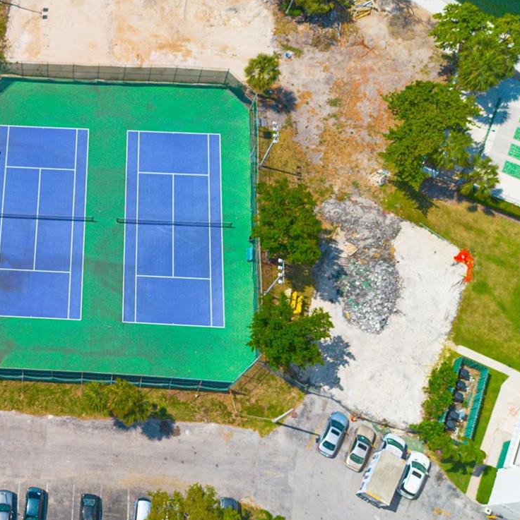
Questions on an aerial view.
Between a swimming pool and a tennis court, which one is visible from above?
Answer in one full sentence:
The image shows a tennis court.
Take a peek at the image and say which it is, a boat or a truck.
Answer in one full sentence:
It is a truck that can be seen here.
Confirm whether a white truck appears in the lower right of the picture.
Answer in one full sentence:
Yes, a white truck is visible in the lower right of the picture.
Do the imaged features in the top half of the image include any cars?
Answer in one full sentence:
No, there's no car to be seen in the top half of the image.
